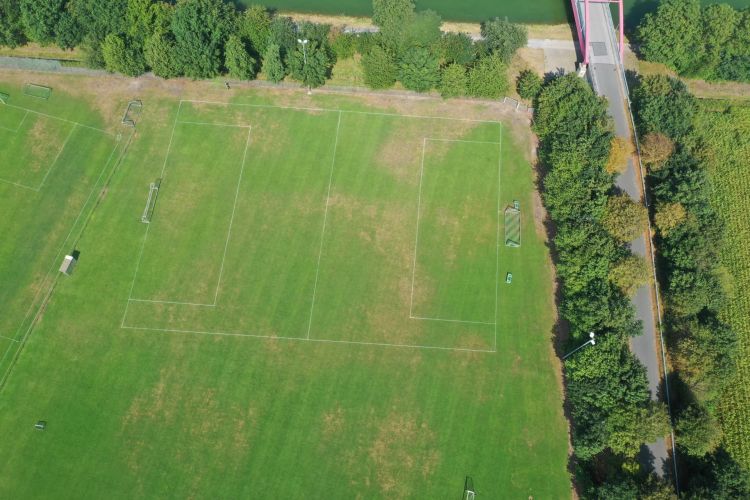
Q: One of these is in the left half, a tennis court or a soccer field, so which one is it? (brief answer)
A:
soccer field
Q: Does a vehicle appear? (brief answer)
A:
No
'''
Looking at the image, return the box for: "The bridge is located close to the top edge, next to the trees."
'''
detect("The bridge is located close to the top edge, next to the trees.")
[571,0,626,96]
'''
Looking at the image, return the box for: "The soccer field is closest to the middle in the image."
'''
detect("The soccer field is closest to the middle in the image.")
[122,100,501,351]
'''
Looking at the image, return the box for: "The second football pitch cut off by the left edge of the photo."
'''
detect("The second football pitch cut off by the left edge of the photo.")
[0,106,118,367]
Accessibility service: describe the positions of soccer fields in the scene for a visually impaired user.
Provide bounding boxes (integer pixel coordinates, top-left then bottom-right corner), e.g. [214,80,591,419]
[0,106,118,367]
[122,100,501,351]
